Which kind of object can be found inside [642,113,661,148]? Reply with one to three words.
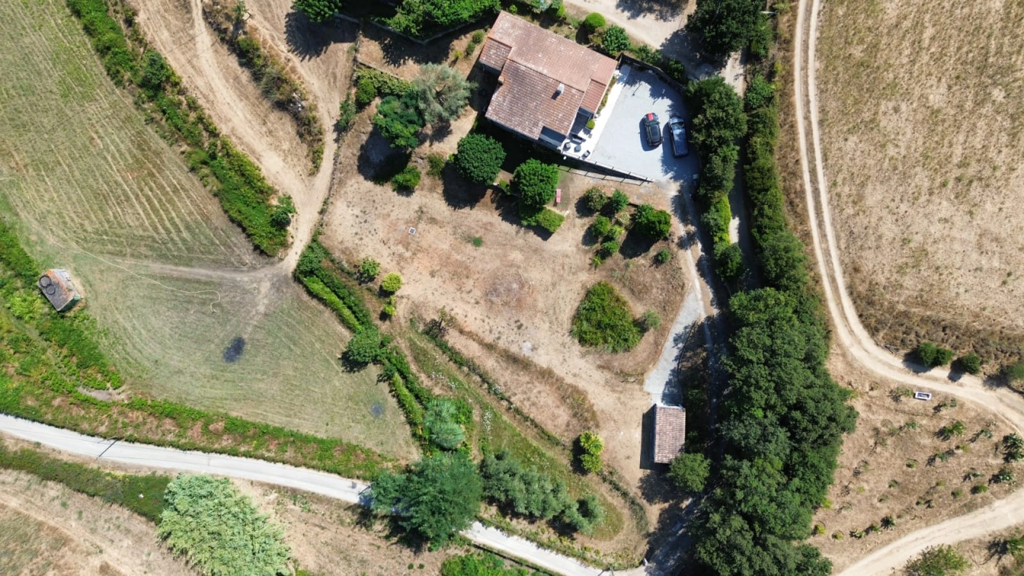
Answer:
car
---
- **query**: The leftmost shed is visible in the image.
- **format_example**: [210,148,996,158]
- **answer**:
[37,269,85,311]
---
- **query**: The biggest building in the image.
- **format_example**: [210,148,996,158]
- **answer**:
[478,13,617,153]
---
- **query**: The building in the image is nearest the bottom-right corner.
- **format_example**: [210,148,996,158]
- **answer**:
[651,403,686,465]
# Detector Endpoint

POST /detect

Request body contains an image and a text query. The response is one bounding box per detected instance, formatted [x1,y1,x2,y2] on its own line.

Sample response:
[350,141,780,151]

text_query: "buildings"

[37,269,85,311]
[651,403,686,465]
[478,13,617,153]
